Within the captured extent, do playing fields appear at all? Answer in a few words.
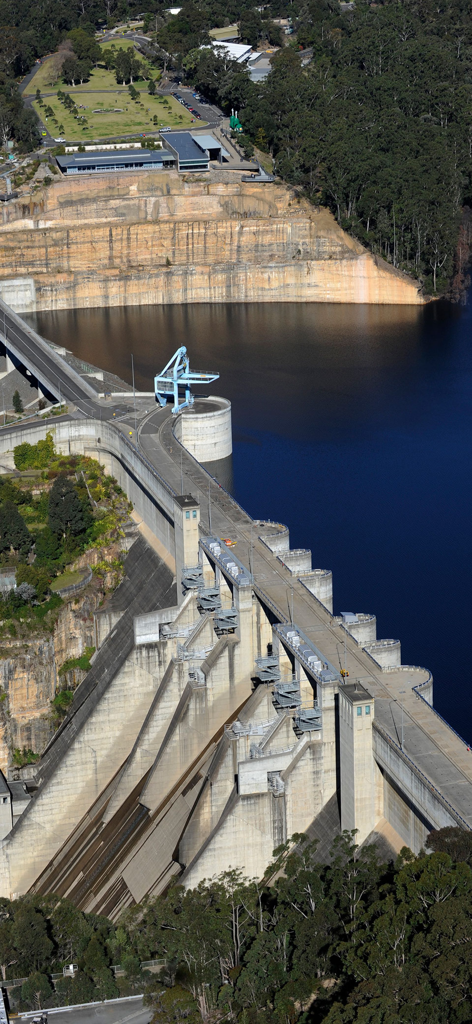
No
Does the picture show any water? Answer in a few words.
Yes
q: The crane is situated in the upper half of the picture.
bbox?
[150,334,222,415]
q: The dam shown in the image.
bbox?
[0,370,472,1010]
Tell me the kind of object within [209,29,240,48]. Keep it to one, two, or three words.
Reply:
shed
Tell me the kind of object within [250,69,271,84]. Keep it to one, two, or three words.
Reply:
shed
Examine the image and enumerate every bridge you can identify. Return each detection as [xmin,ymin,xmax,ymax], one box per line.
[0,300,98,411]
